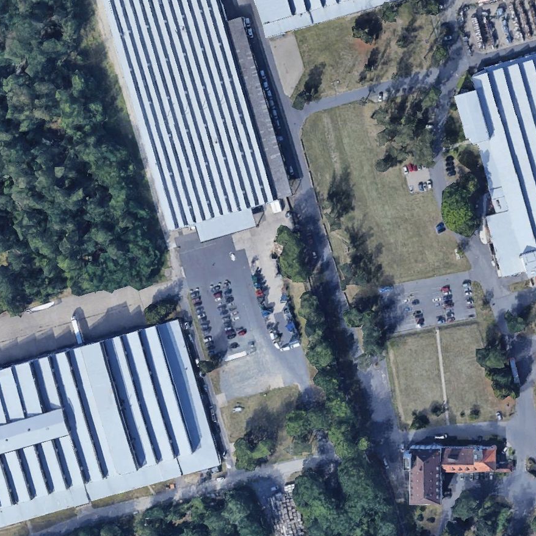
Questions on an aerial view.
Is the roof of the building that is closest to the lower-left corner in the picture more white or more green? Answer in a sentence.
In this view, the roof of the building that is closest to the lower-left corner is white.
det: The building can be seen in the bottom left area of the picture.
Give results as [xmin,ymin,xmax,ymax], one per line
[0,318,222,527]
